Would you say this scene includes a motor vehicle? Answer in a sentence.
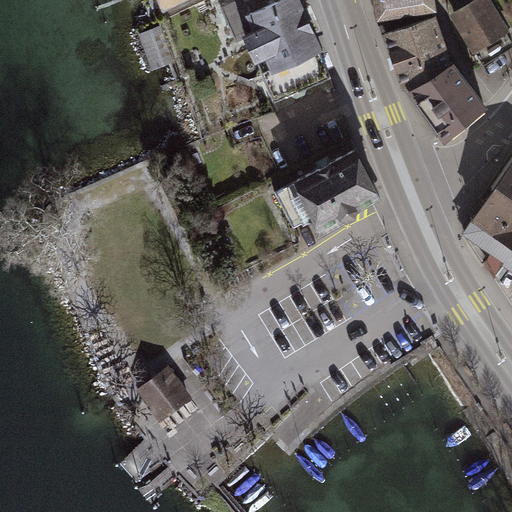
Yes, a motor vehicle is visible in the scene.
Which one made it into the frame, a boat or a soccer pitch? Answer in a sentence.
There is a boat in the scene.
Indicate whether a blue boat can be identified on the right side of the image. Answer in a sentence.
Yes, on the right side of the image there is a blue boat.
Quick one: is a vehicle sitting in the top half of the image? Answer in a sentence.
Yes, a vehicle can be seen in the top half of the image.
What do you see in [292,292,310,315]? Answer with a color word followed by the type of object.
black car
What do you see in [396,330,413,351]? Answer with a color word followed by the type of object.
blue car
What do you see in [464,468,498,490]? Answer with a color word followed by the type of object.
blue boat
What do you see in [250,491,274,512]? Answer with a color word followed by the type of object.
white boat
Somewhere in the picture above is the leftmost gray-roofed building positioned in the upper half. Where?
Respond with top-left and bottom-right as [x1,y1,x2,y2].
[139,25,174,70]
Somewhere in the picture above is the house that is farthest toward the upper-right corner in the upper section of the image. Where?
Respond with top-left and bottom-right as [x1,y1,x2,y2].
[450,0,510,65]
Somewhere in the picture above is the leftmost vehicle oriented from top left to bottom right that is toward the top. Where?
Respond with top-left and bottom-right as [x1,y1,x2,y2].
[270,148,288,169]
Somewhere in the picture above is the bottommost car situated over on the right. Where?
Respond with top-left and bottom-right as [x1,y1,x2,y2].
[332,371,350,395]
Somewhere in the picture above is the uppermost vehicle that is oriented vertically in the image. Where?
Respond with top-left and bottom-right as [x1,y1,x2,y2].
[350,76,363,100]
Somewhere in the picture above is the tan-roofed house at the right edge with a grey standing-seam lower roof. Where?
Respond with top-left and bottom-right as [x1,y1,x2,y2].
[464,160,512,270]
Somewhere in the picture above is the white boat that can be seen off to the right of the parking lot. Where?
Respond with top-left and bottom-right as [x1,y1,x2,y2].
[442,426,472,452]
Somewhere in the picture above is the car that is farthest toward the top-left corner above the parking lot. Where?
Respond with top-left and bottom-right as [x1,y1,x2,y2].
[233,126,255,139]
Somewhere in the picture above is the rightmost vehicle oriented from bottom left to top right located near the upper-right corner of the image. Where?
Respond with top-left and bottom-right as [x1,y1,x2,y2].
[486,54,509,74]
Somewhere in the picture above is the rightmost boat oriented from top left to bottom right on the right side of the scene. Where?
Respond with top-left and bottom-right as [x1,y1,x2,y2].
[342,414,366,449]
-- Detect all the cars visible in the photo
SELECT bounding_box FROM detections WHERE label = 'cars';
[327,119,344,144]
[273,307,290,328]
[344,262,363,286]
[346,324,370,341]
[367,125,382,149]
[233,126,255,139]
[276,336,294,358]
[270,148,288,169]
[350,76,363,100]
[320,312,337,334]
[329,303,346,324]
[374,345,391,366]
[332,371,350,395]
[396,330,413,351]
[379,274,396,296]
[486,54,509,74]
[306,314,325,338]
[406,322,422,344]
[314,282,333,306]
[386,340,402,362]
[358,350,377,372]
[358,284,376,308]
[300,226,316,249]
[400,291,424,309]
[292,292,310,315]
